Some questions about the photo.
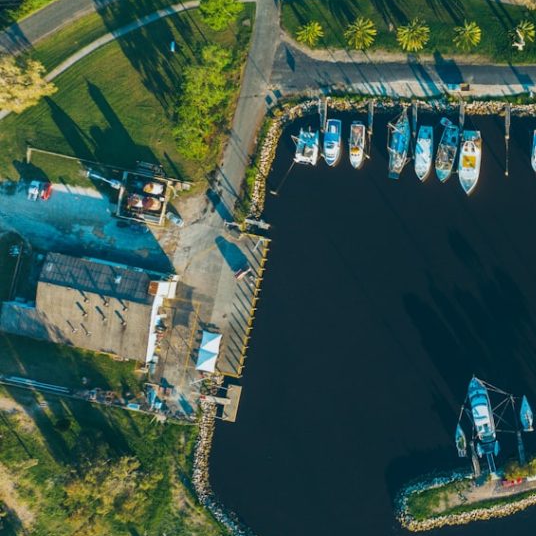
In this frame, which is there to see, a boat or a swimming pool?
boat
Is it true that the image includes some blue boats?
Yes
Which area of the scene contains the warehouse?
left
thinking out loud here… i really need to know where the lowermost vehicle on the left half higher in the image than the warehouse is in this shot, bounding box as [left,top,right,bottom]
[167,210,182,228]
